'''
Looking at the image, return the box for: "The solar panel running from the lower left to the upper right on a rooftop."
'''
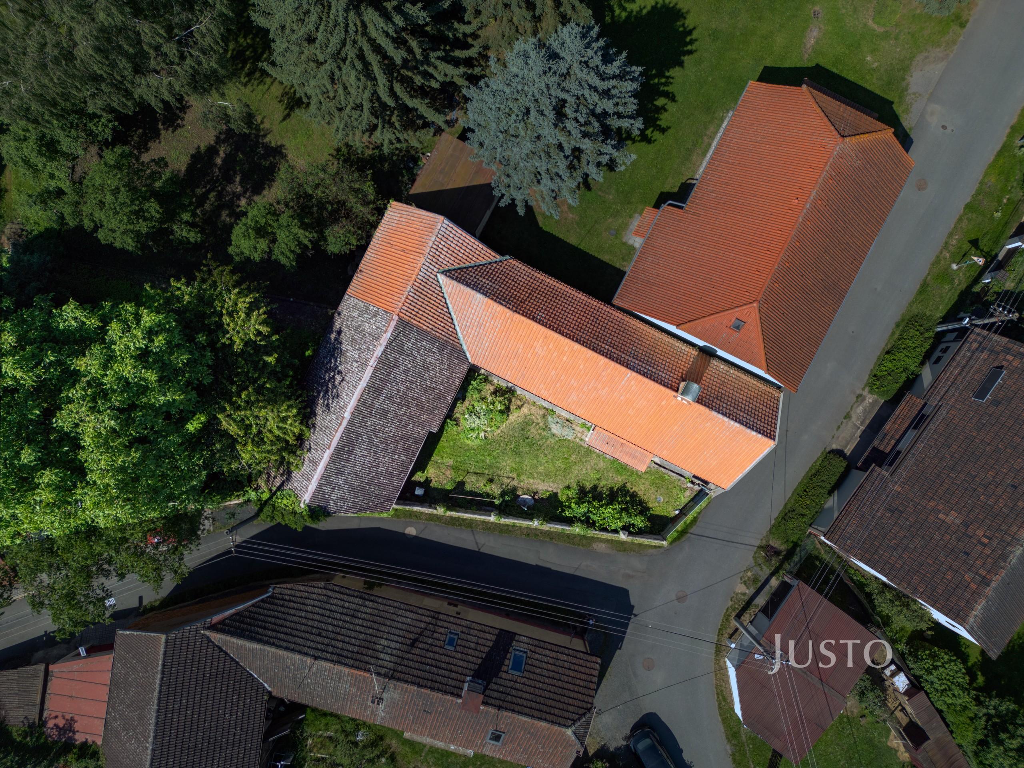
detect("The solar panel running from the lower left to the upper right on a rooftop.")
[971,365,1005,402]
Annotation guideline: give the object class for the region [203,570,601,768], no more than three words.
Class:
house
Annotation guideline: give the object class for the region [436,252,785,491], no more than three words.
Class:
house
